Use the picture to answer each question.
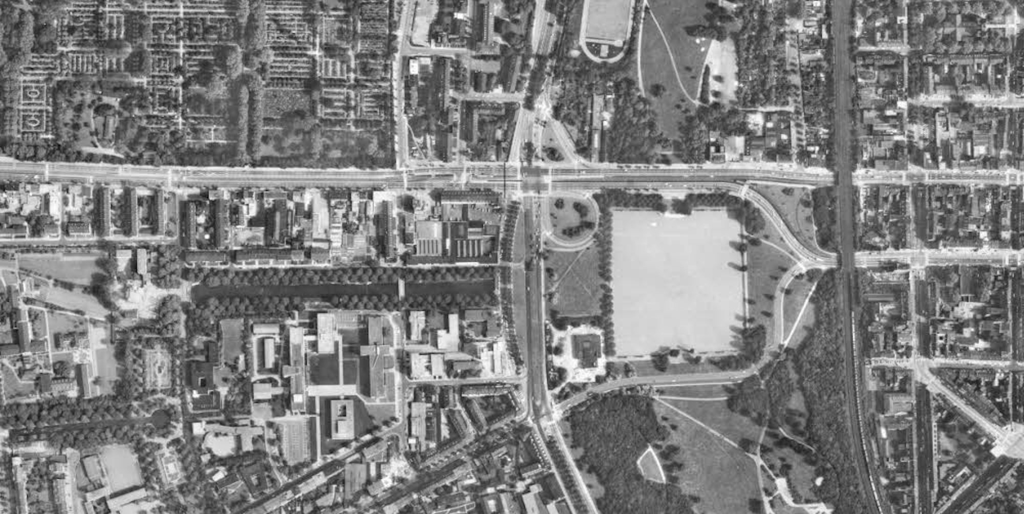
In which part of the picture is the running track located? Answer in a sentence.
The running track sits in the top section of the image.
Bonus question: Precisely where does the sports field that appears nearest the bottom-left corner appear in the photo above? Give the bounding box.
[92,313,117,398]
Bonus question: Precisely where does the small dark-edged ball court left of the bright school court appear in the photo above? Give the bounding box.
[81,453,106,483]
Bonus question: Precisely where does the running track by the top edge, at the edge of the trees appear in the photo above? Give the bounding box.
[580,0,632,63]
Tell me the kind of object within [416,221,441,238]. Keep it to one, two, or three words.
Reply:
building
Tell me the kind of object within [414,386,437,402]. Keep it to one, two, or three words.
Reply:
house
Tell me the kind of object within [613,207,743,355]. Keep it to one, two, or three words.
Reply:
sports field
